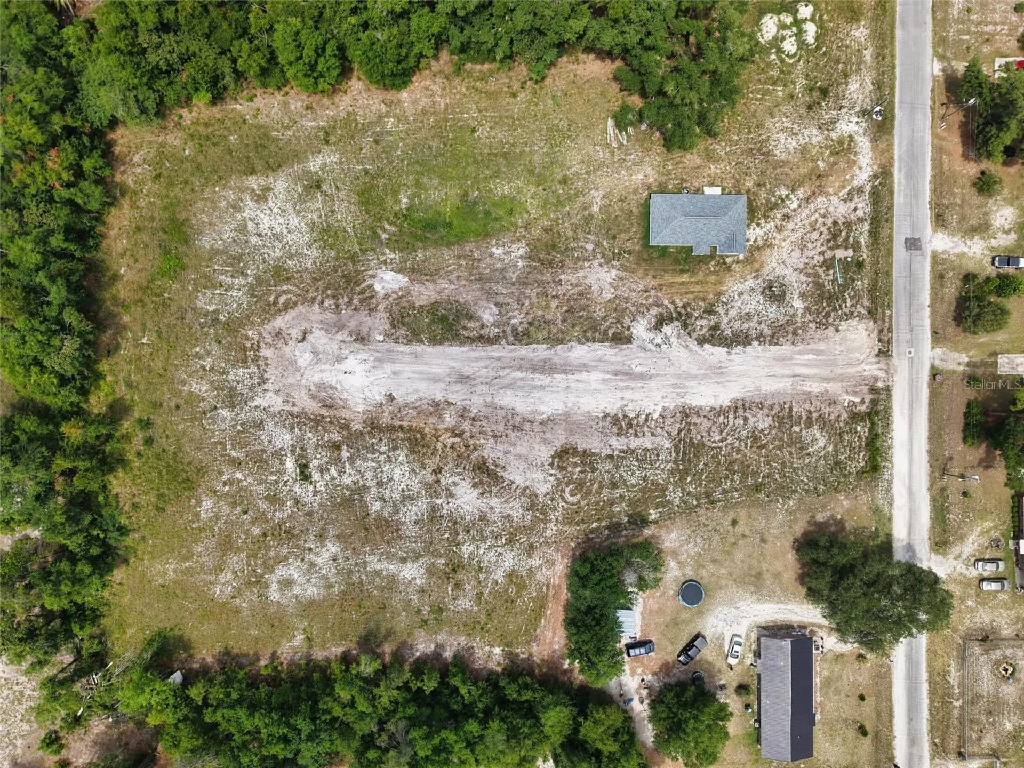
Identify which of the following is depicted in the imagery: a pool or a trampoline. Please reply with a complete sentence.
This aerial view contains a trampoline.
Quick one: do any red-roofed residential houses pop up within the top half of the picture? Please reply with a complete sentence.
No, the scene shows no red-roofed residential house within the top half of the picture.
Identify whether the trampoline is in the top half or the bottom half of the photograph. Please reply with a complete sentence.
It is in the bottom half that the trampoline appears.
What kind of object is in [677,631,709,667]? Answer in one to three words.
truck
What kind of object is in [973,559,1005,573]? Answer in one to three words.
car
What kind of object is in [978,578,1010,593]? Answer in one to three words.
car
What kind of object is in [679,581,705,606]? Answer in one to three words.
trampoline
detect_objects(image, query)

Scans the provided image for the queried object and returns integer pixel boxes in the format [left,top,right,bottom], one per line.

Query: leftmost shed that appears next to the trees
[617,606,637,638]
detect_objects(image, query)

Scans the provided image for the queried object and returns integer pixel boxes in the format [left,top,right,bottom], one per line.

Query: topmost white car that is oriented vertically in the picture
[726,633,743,665]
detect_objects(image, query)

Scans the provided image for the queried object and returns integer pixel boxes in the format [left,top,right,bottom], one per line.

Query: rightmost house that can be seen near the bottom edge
[757,632,815,763]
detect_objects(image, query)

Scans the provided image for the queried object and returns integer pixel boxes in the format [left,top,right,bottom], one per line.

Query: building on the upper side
[649,194,747,256]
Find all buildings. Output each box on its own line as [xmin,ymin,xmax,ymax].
[1013,497,1024,590]
[617,606,637,638]
[757,632,815,763]
[649,194,747,256]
